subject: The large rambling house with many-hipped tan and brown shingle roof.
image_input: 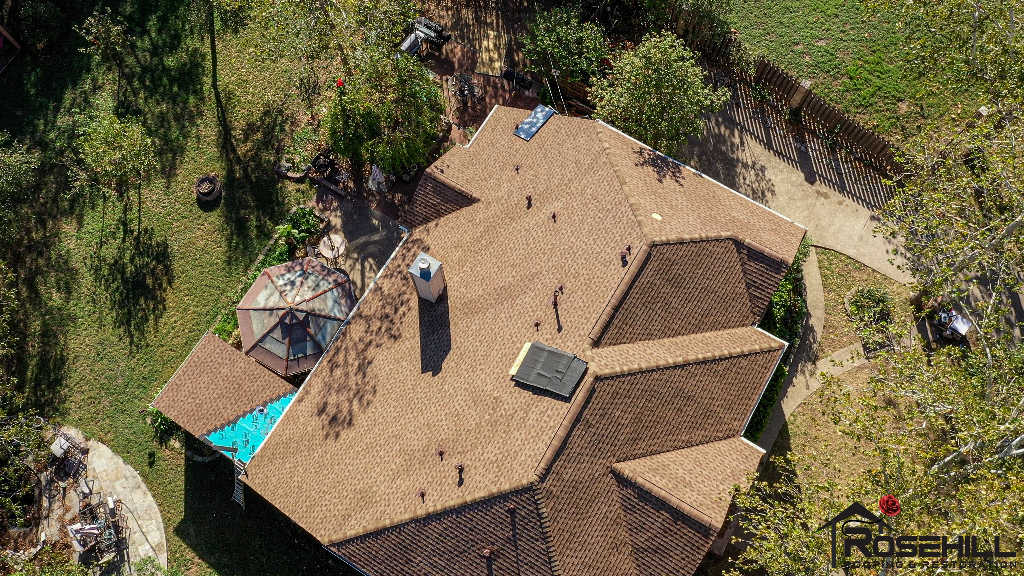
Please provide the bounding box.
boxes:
[232,105,810,576]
